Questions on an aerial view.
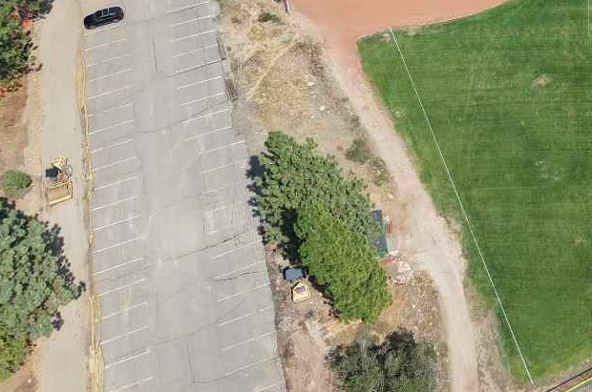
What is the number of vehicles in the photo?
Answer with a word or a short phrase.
three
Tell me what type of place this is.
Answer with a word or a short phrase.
sports ground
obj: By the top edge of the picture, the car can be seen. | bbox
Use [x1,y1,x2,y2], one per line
[80,2,125,30]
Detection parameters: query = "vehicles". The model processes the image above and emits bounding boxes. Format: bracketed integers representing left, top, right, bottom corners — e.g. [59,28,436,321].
[279,257,309,304]
[41,158,72,211]
[80,2,125,30]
